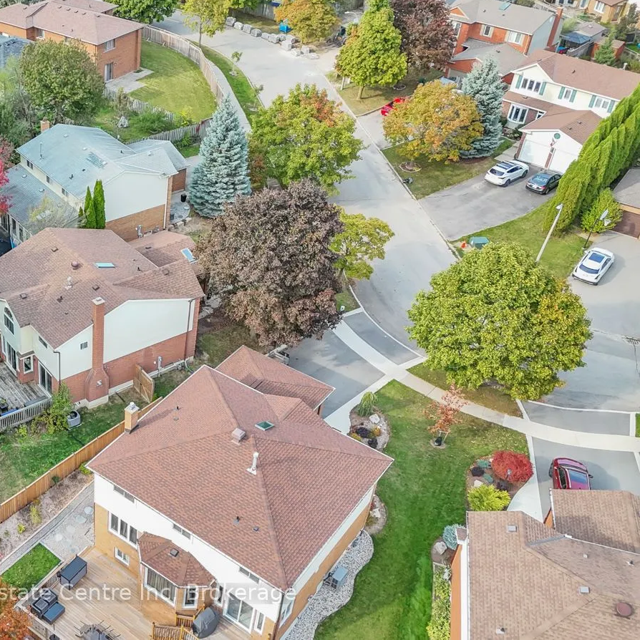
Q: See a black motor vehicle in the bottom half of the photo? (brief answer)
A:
No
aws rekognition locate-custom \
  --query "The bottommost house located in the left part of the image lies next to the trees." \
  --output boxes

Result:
[84,346,395,640]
